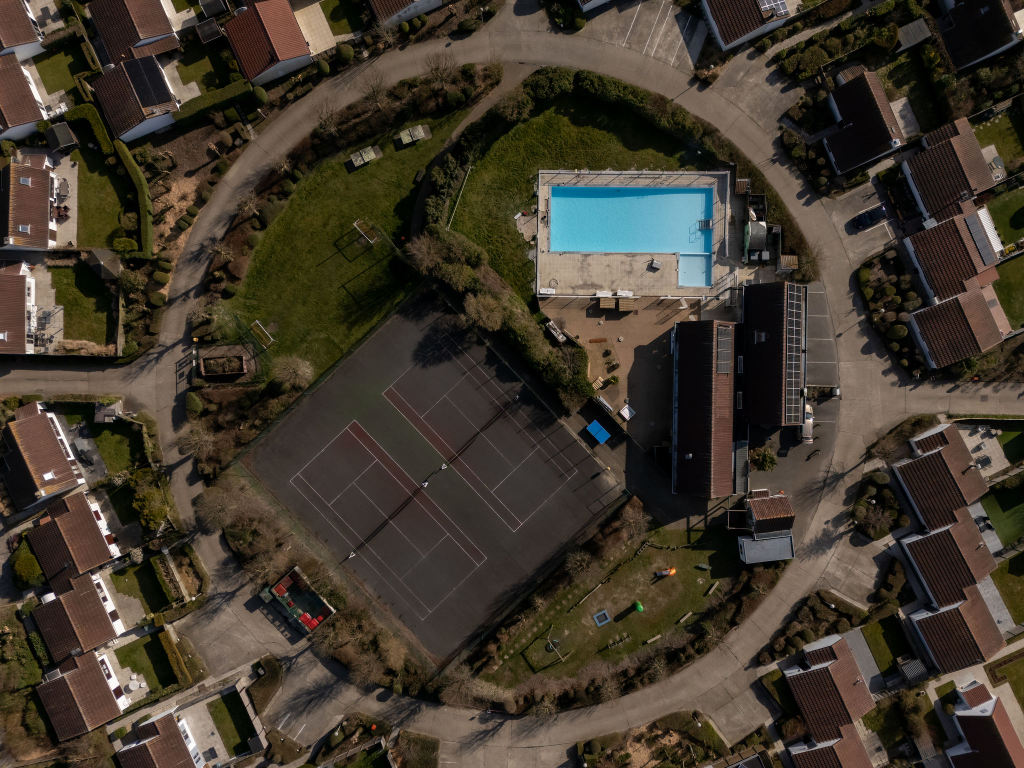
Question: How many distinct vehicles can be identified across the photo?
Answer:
2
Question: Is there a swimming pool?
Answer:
Yes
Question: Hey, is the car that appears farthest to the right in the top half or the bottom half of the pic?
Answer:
top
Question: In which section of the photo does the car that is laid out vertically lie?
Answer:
right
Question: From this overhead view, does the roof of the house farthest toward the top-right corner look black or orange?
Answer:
black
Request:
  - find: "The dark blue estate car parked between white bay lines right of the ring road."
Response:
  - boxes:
[850,205,888,231]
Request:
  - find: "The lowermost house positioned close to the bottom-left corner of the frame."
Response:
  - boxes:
[120,705,209,768]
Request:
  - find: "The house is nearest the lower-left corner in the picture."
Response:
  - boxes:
[36,644,131,741]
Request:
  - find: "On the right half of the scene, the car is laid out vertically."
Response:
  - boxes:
[799,405,819,443]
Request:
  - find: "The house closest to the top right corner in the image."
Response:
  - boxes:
[929,0,1023,71]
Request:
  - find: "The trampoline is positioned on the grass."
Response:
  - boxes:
[592,608,613,629]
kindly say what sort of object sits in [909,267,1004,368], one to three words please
house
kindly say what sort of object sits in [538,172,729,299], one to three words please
swimming pool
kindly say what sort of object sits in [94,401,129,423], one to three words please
shed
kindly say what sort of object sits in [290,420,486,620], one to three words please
tennis court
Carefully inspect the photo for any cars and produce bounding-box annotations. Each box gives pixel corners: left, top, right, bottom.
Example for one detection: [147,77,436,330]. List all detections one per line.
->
[850,205,888,231]
[799,405,819,443]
